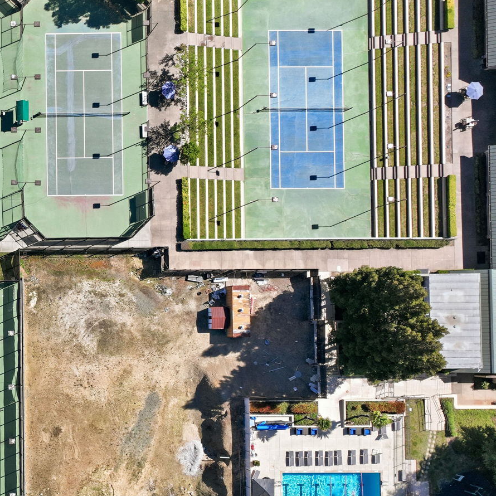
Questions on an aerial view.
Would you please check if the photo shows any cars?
No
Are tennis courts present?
Yes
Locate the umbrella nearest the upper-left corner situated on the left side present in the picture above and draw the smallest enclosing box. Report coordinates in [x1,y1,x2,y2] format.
[159,81,177,99]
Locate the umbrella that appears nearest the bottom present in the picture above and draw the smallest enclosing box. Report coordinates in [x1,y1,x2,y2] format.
[162,145,178,162]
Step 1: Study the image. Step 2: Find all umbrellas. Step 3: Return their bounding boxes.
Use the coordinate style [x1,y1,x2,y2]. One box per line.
[162,145,178,162]
[159,81,177,99]
[460,81,483,99]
